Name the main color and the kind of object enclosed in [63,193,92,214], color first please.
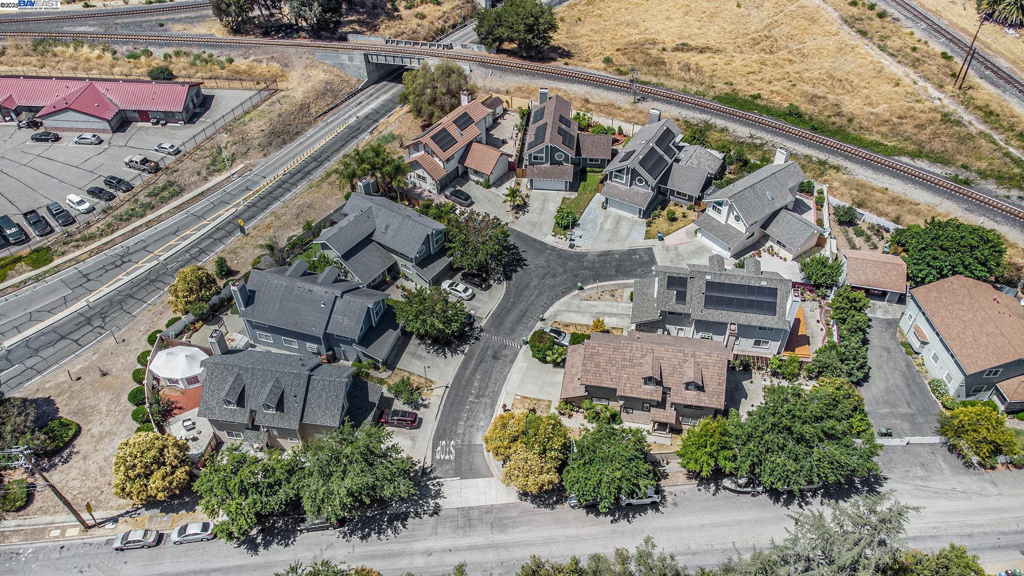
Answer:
white car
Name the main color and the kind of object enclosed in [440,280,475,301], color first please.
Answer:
white car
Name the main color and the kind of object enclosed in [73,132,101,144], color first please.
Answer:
gray vehicle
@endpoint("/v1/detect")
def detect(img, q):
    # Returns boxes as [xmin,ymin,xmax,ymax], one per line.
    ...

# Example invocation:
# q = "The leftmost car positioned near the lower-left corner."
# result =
[110,529,158,553]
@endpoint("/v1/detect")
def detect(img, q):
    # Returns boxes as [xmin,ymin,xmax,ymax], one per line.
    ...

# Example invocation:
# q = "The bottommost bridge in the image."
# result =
[319,29,510,86]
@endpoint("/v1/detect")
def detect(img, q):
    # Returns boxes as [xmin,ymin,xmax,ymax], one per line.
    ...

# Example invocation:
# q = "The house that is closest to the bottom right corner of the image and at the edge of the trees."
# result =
[901,270,1024,414]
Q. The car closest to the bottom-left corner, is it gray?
Yes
